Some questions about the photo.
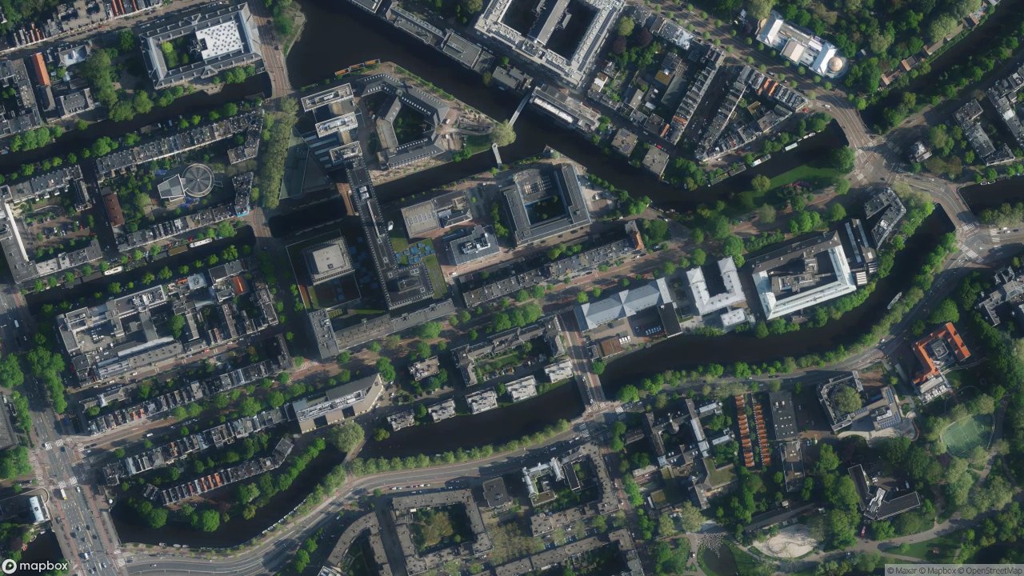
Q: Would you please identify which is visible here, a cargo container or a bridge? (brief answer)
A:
bridge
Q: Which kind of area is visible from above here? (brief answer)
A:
residential area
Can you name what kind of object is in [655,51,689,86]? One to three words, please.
house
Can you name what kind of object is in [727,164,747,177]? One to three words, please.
boat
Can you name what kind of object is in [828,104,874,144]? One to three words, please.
bridge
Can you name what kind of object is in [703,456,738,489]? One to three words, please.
building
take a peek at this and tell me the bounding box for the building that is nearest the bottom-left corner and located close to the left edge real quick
[0,495,45,525]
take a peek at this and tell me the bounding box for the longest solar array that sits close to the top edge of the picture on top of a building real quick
[578,9,616,71]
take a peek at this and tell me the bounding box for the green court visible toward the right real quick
[943,413,995,460]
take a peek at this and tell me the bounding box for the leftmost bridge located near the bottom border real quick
[49,503,126,576]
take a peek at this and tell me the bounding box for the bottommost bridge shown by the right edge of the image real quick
[932,184,980,232]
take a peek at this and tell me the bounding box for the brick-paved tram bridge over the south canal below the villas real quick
[572,367,608,411]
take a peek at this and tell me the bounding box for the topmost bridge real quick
[269,56,295,98]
